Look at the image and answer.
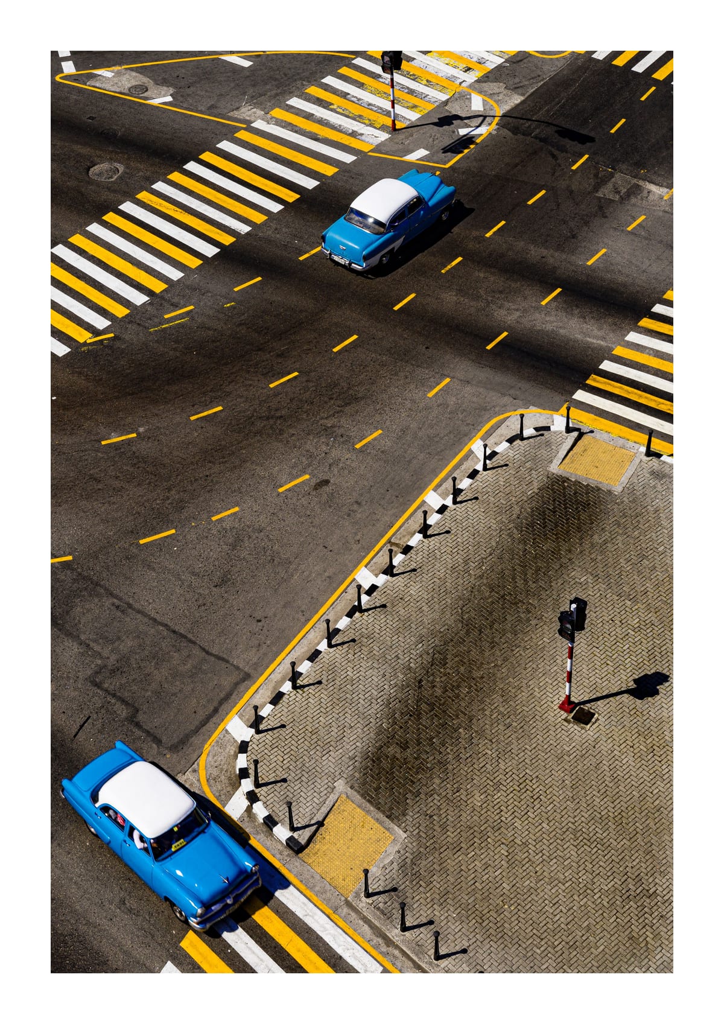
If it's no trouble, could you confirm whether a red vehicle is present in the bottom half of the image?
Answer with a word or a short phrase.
No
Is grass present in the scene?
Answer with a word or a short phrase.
No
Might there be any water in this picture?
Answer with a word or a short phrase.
No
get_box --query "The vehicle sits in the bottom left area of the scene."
[55,742,267,932]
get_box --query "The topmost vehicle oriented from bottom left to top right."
[317,171,464,273]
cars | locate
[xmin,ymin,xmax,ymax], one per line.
[55,742,267,932]
[317,171,464,273]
